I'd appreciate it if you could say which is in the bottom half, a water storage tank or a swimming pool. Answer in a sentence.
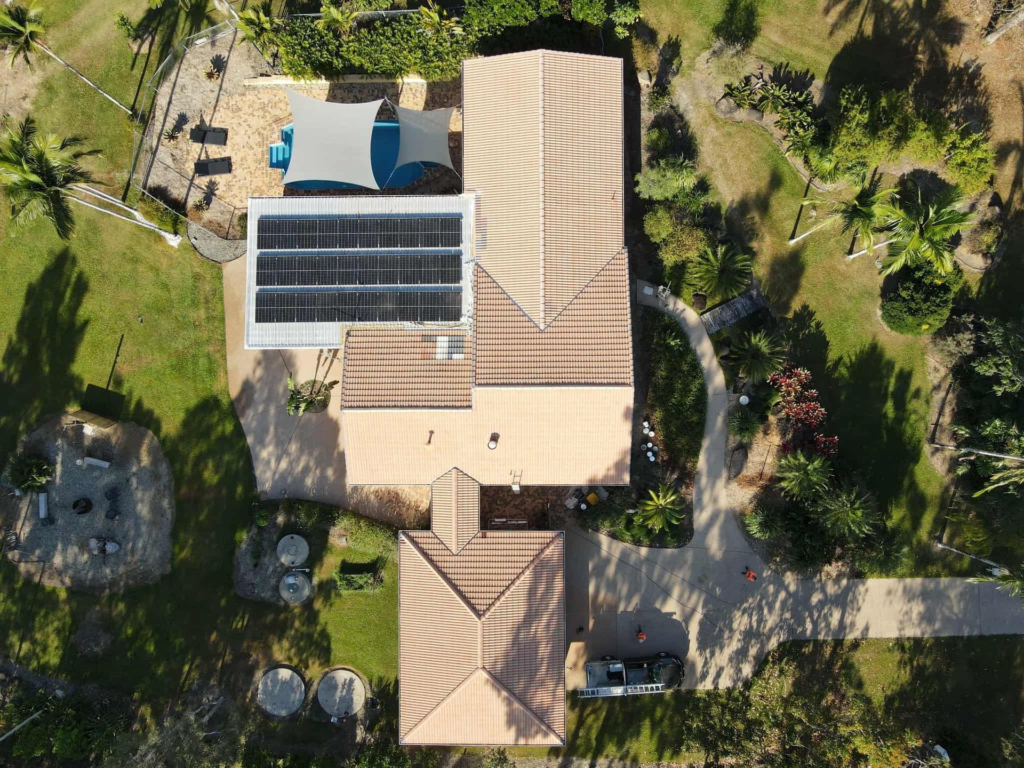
There is a water storage tank in the bottom half.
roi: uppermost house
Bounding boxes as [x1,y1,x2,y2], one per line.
[339,47,637,558]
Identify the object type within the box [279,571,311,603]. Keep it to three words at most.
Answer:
water tank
